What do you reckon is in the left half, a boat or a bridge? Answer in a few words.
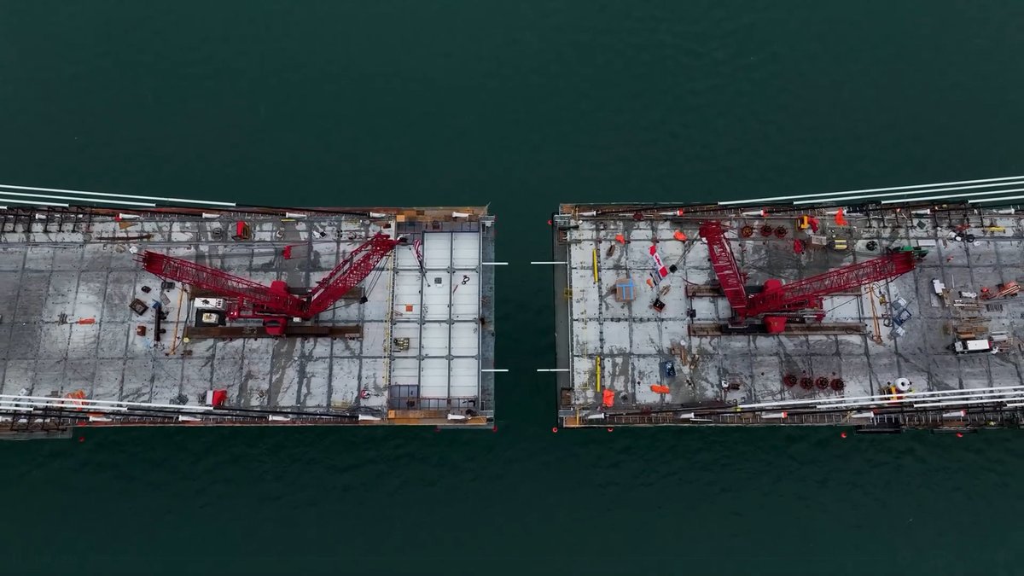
bridge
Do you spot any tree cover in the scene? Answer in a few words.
No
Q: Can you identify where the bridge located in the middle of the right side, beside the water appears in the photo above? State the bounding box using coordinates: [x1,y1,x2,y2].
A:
[530,176,1024,438]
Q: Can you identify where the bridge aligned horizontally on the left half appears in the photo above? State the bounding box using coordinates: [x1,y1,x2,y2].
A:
[0,184,509,441]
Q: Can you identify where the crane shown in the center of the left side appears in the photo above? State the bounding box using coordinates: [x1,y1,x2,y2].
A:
[133,232,426,336]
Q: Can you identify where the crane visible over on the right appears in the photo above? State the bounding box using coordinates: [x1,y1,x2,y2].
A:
[668,214,920,335]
